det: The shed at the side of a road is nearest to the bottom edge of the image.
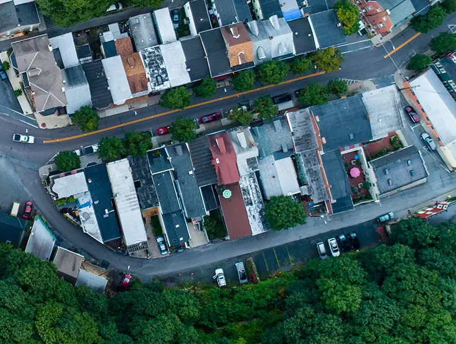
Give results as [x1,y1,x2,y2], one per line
[74,268,108,295]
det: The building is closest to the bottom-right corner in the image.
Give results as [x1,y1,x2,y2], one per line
[413,198,456,228]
